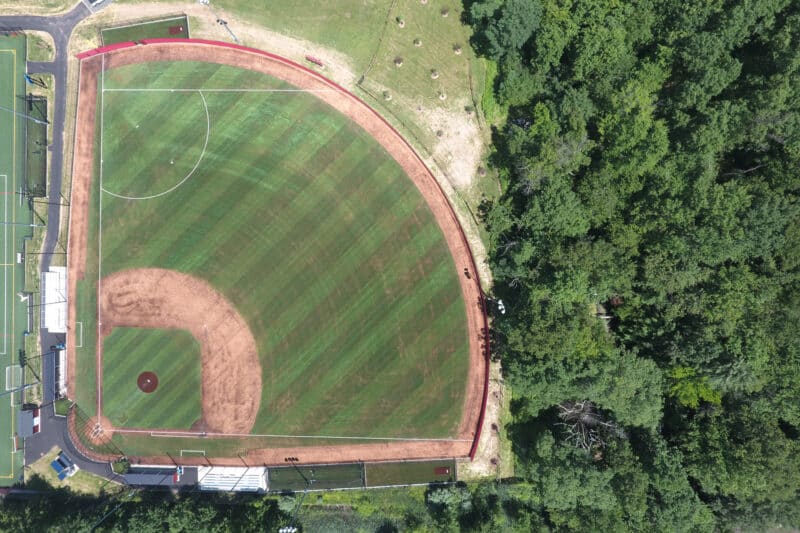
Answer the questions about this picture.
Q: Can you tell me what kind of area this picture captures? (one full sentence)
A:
What you see here is a sports ground.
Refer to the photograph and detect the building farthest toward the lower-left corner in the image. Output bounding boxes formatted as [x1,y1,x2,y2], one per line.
[16,409,41,439]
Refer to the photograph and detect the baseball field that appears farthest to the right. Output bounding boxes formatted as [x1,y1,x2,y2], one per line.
[66,43,488,467]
